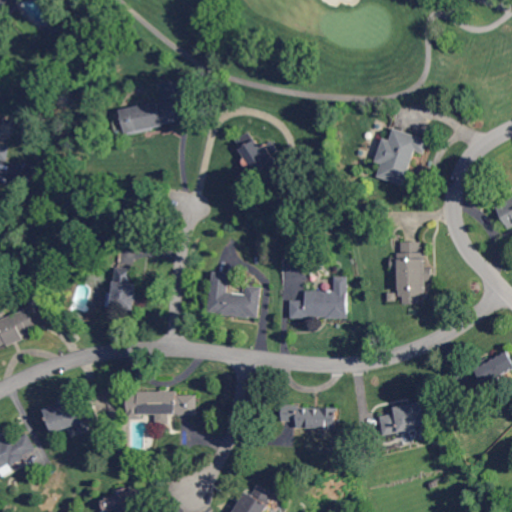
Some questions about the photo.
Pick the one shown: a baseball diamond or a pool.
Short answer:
pool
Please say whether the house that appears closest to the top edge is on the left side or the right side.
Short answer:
left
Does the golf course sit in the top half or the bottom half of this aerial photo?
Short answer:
top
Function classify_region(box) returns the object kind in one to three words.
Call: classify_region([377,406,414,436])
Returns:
house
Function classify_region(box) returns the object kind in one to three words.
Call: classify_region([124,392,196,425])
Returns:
house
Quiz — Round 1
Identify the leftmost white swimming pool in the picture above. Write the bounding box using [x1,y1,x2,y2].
[71,284,92,312]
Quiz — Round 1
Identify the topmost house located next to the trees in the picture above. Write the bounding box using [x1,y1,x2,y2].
[118,105,160,135]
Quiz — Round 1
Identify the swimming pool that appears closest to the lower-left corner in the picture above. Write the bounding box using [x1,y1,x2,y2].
[130,416,154,452]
